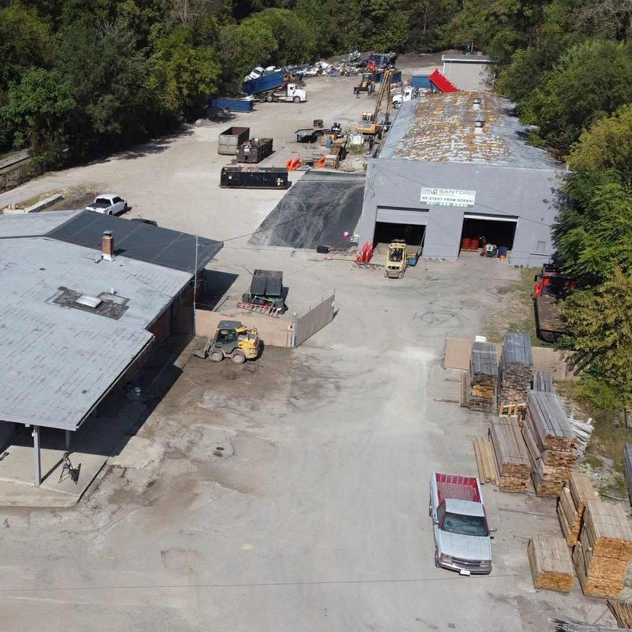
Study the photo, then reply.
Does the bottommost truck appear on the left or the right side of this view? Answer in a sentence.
It is on the right.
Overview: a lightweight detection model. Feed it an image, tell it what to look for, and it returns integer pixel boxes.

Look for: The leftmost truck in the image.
[80,188,133,214]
